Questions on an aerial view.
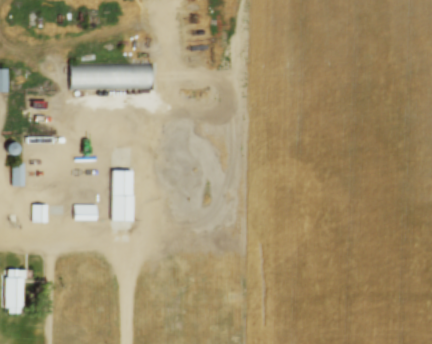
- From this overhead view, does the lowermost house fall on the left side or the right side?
left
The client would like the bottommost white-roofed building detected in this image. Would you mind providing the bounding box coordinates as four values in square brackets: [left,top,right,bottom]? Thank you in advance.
[6,270,27,314]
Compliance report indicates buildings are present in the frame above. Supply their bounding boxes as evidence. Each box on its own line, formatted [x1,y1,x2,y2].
[0,68,8,92]
[70,66,154,90]
[32,205,48,224]
[6,270,27,314]
[74,205,98,222]
[111,170,134,221]
[12,164,24,186]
